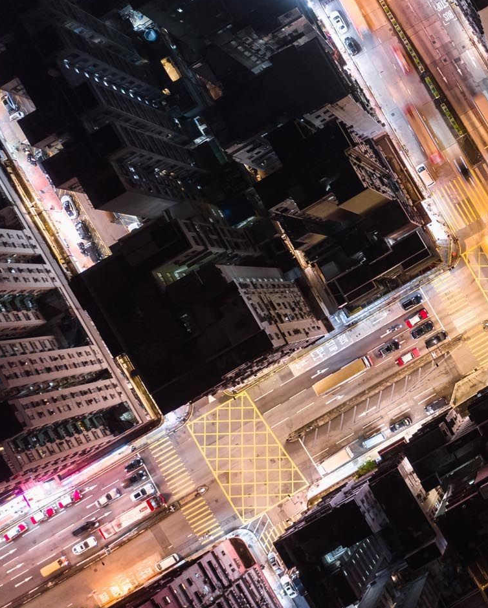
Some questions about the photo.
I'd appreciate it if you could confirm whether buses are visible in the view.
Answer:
Yes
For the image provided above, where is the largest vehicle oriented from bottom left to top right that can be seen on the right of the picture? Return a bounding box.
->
[312,352,377,397]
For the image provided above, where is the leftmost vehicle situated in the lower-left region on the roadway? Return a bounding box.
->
[4,521,29,540]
